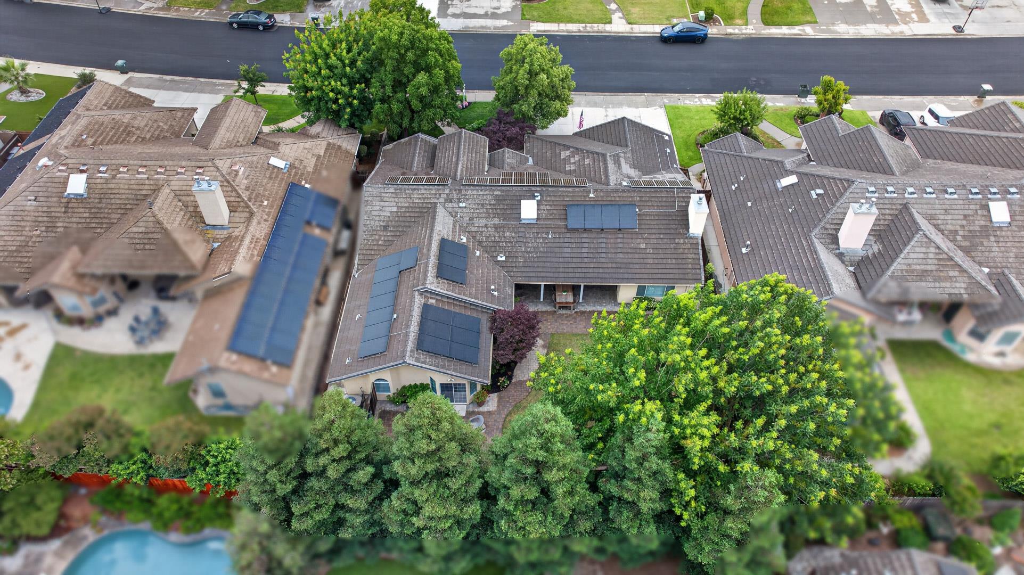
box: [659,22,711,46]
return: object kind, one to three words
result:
car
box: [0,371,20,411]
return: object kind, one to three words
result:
swimming pool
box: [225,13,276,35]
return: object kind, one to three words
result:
car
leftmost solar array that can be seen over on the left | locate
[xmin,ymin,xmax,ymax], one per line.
[232,183,337,364]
